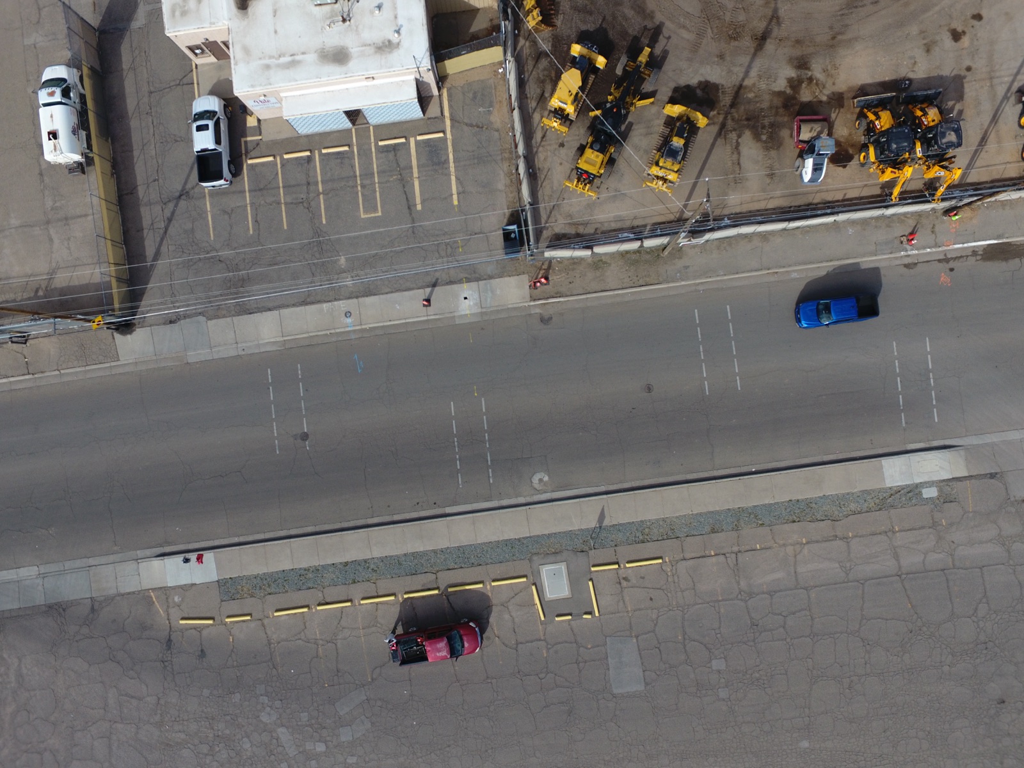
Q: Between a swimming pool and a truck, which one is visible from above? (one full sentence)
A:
It is a truck that can be seen here.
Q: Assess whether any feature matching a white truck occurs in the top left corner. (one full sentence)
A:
Yes, there is a white truck in the top left corner.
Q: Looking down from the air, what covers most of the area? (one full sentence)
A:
What you mostly see from above here is paved ground.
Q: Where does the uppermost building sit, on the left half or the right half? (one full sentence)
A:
You can find the uppermost building on the left side of the picture.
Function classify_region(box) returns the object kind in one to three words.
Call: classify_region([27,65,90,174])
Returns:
truck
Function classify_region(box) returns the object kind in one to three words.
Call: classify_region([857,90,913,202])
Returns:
work vehicle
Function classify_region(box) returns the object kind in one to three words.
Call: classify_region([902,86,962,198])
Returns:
work vehicle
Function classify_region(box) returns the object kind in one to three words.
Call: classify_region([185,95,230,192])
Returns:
truck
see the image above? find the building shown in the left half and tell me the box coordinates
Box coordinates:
[159,0,440,134]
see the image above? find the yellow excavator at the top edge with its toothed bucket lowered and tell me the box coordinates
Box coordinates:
[524,0,556,32]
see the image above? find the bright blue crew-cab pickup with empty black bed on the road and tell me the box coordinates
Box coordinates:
[792,288,881,330]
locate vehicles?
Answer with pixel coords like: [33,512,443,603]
[524,0,556,32]
[646,104,713,193]
[388,622,482,666]
[792,288,881,330]
[185,95,230,192]
[27,65,90,174]
[857,90,913,202]
[564,41,662,196]
[902,86,962,198]
[544,45,608,132]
